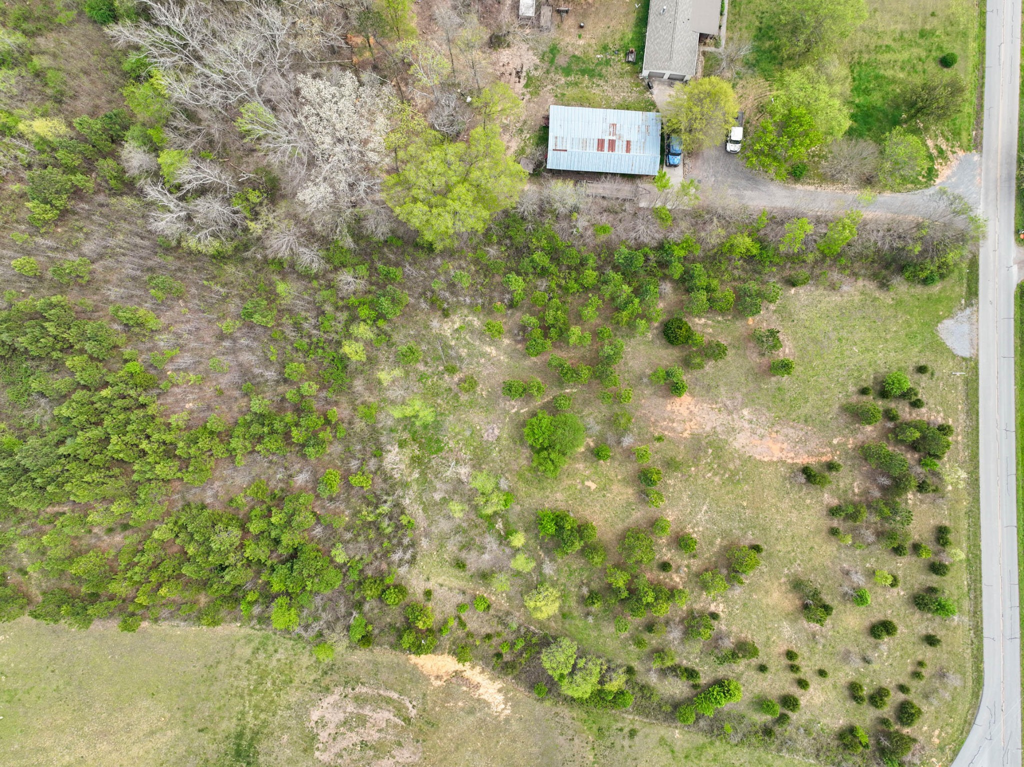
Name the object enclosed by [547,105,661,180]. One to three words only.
shed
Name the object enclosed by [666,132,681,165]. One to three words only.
car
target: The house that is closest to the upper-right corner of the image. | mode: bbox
[643,0,724,79]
